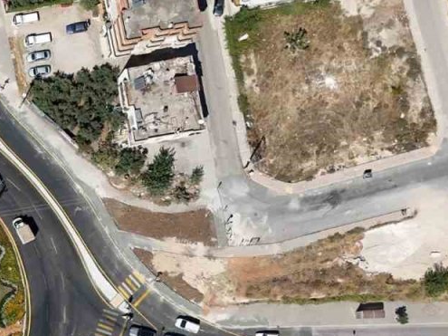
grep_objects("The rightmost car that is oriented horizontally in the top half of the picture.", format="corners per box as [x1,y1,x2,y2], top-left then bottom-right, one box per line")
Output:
[66,20,91,34]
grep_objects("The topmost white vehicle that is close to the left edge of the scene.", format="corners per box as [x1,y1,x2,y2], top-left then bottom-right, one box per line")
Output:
[14,9,40,25]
